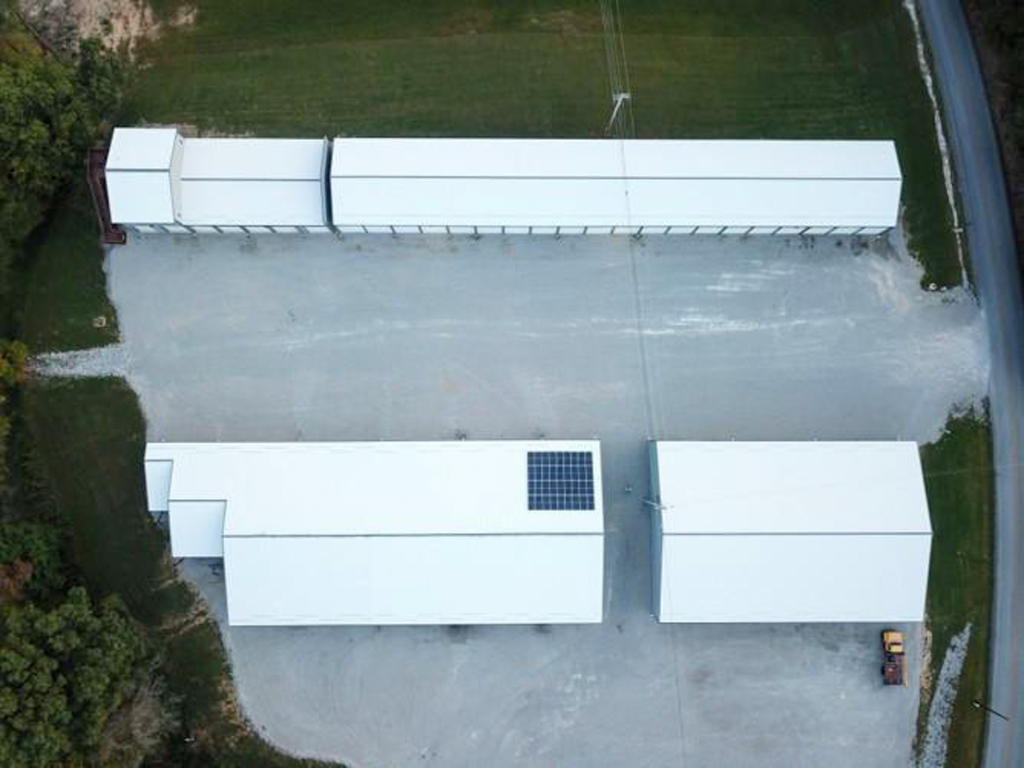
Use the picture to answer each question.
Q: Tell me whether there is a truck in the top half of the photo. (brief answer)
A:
No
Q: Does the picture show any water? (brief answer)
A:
No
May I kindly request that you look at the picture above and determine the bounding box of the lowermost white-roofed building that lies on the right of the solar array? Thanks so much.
[650,439,932,623]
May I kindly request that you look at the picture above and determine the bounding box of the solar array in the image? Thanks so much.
[527,452,594,510]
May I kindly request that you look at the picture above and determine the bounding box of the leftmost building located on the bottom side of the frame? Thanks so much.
[144,439,604,626]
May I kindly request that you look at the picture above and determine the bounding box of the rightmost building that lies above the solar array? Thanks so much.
[330,137,901,238]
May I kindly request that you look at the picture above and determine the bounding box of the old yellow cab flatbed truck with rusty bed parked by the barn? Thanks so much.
[883,629,909,689]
